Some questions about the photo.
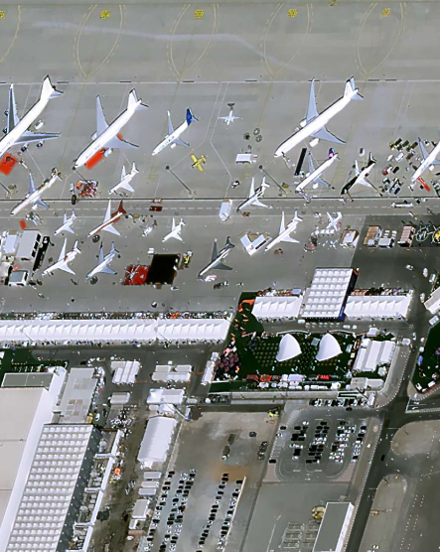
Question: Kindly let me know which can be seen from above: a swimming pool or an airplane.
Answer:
airplane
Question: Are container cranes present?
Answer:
No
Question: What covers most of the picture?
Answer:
paved ground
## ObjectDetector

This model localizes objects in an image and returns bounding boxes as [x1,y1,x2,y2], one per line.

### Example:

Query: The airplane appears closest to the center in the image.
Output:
[200,238,235,277]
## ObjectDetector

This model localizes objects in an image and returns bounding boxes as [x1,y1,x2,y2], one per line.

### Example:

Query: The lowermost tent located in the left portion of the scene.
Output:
[137,416,181,464]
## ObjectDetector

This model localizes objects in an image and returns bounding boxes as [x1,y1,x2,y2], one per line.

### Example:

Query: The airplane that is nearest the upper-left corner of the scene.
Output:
[0,85,61,156]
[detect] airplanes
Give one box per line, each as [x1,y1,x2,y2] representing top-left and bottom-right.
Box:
[42,240,79,277]
[55,211,76,235]
[218,104,240,125]
[238,177,269,212]
[89,201,126,238]
[0,85,61,156]
[153,113,196,155]
[342,156,379,193]
[192,155,205,171]
[163,218,185,241]
[12,168,61,215]
[200,238,235,277]
[275,75,361,156]
[111,165,137,193]
[323,210,342,229]
[87,246,117,278]
[75,93,146,167]
[298,149,340,190]
[412,135,440,180]
[266,212,303,250]
[415,226,429,242]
